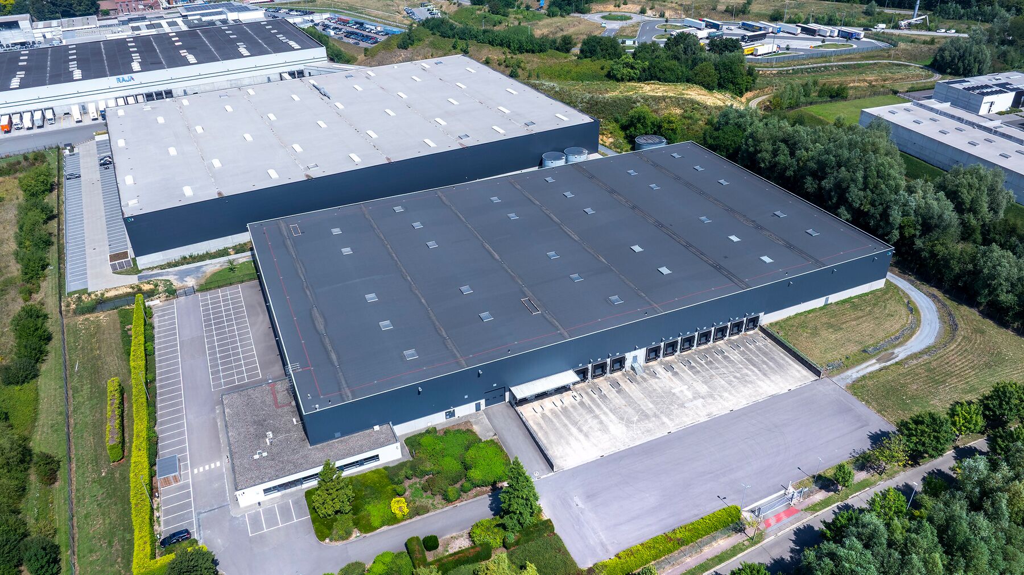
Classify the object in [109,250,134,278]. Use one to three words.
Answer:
shed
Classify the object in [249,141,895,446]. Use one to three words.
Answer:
warehouse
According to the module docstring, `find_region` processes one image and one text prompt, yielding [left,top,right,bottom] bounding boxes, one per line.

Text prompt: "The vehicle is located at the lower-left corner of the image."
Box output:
[159,525,191,545]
